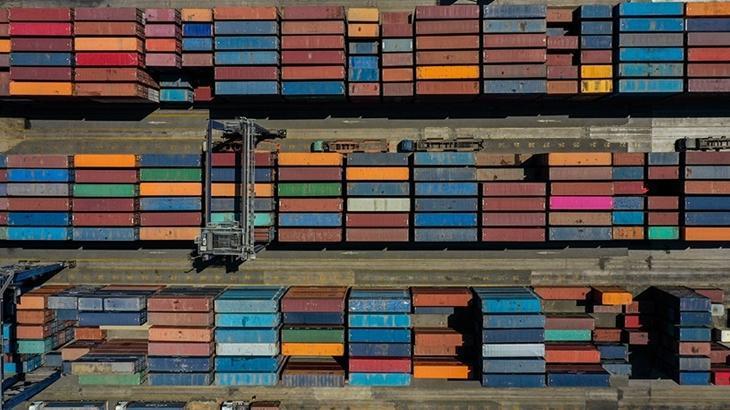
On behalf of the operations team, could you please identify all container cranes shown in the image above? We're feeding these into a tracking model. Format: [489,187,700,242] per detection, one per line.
[0,258,76,410]
[193,116,292,265]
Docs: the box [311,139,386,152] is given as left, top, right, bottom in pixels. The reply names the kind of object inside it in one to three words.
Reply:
vehicle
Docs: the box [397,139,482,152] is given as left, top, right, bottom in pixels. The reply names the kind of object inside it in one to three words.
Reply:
vehicle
